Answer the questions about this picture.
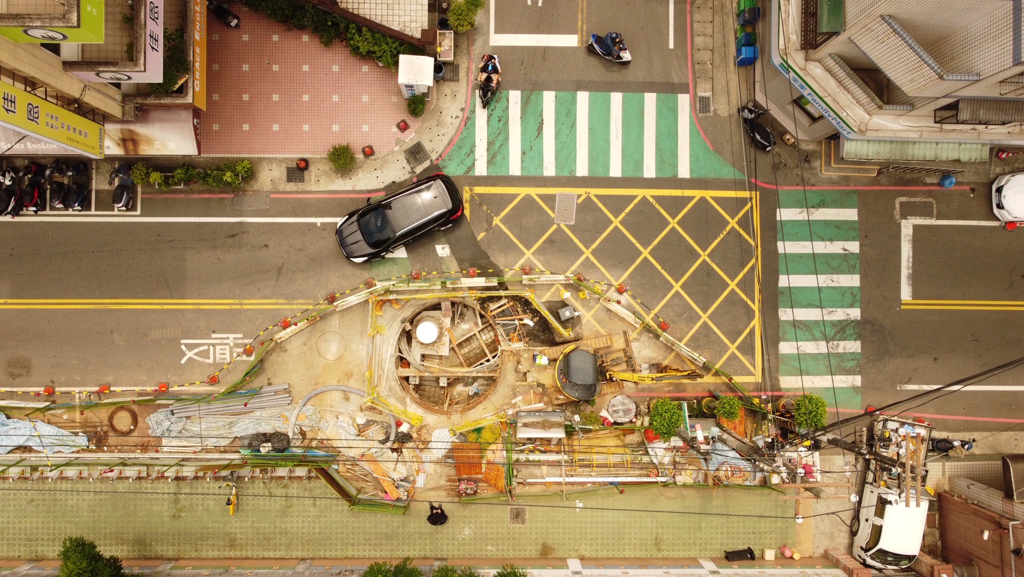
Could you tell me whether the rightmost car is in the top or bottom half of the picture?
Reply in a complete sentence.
Seen from above, the rightmost car lies in the top half of the view.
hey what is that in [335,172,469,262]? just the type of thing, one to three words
car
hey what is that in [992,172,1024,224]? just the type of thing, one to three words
car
